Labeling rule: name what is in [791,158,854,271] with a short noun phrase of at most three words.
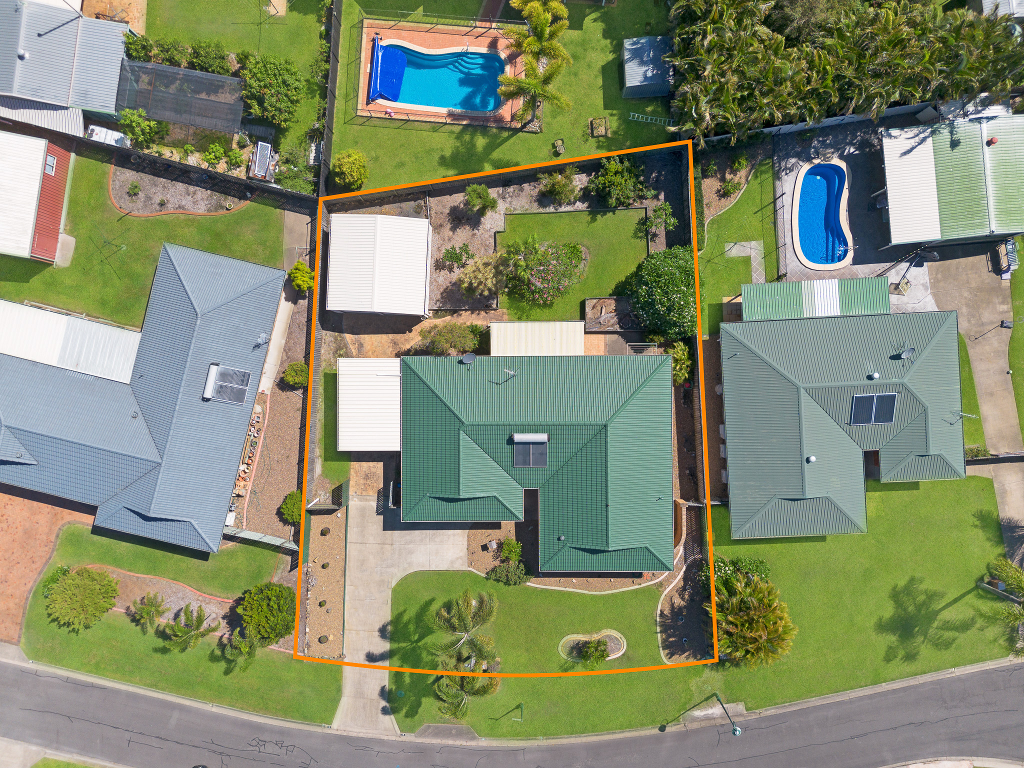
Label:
swimming pool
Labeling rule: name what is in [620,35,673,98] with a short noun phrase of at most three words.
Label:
shed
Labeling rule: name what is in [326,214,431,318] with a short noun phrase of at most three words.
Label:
building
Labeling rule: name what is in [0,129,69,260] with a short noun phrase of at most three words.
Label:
shed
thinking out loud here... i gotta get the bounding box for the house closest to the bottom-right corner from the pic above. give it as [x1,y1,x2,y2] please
[717,309,968,542]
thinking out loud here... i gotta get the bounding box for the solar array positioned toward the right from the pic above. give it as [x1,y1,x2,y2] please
[852,393,898,426]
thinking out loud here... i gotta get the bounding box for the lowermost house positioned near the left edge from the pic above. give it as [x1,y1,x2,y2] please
[0,241,288,555]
